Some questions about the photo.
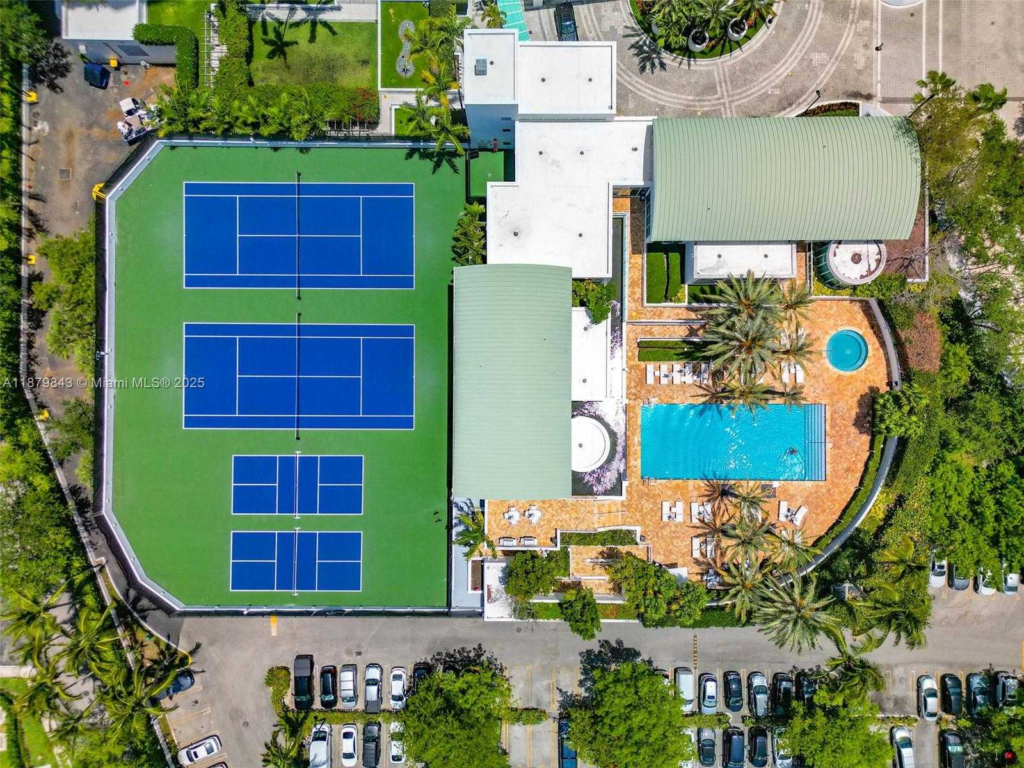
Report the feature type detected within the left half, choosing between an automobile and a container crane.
automobile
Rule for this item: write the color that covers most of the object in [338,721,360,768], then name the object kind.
white car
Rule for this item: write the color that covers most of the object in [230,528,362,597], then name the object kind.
blue sports court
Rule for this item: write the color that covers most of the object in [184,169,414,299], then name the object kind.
blue tennis court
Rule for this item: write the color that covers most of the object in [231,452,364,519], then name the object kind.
blue sports court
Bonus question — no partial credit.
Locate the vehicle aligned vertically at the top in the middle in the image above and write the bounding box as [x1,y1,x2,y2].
[557,0,580,41]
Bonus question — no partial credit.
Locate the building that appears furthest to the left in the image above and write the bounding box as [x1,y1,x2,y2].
[62,0,174,65]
